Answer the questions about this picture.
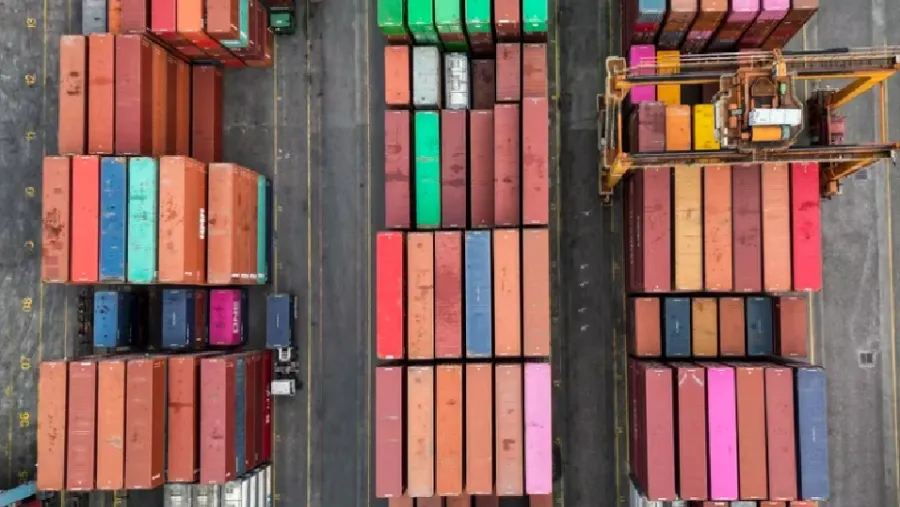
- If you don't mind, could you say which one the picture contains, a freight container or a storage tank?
freight container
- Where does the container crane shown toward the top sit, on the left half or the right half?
right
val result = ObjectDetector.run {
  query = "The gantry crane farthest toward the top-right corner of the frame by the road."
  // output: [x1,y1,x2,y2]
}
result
[587,45,900,209]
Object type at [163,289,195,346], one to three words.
shipping container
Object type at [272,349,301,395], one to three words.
truck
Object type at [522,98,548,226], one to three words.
shipping container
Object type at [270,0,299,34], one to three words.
truck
